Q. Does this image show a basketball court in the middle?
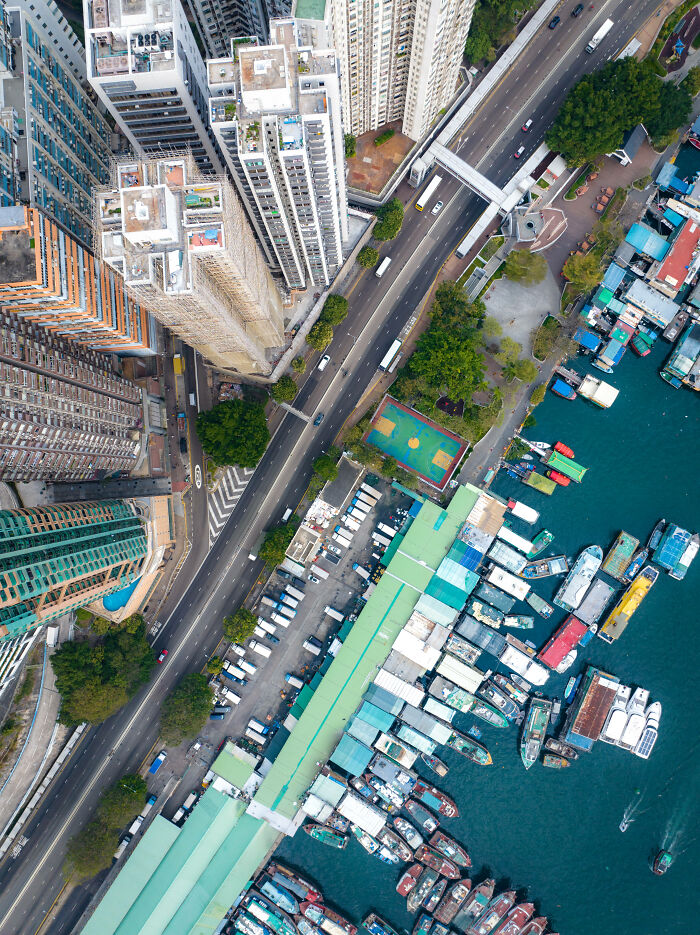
Yes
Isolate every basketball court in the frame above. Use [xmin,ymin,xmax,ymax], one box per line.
[358,393,472,493]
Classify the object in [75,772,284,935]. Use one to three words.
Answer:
building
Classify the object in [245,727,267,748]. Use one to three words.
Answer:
truck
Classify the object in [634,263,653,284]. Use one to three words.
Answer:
ship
